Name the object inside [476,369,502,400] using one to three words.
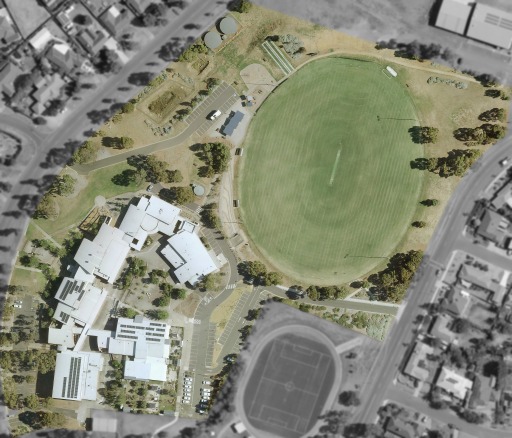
house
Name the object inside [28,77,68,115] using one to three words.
house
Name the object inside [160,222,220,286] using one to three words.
building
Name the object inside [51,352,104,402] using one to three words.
building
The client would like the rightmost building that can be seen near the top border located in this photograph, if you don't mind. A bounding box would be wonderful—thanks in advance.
[467,0,512,50]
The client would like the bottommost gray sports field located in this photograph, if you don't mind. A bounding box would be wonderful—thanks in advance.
[238,326,342,438]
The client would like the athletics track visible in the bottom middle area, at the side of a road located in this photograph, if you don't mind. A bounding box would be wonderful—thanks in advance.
[238,326,342,438]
